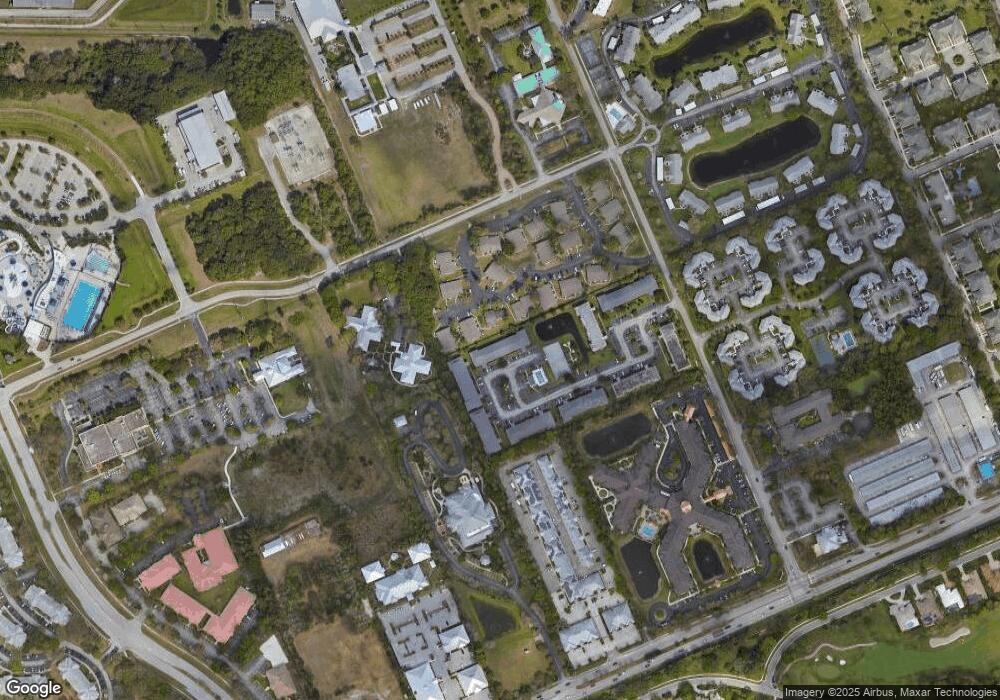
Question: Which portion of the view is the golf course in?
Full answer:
The golf course is in the bottom right part of the image.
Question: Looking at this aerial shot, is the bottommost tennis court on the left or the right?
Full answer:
You can find the bottommost tennis court on the right side of the picture.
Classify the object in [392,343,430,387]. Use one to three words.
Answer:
house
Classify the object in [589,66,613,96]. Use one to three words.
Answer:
tennis court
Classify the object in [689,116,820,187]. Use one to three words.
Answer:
pond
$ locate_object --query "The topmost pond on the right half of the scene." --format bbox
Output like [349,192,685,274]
[652,8,775,78]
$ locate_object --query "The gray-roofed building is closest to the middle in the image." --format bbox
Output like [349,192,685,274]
[470,330,530,366]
